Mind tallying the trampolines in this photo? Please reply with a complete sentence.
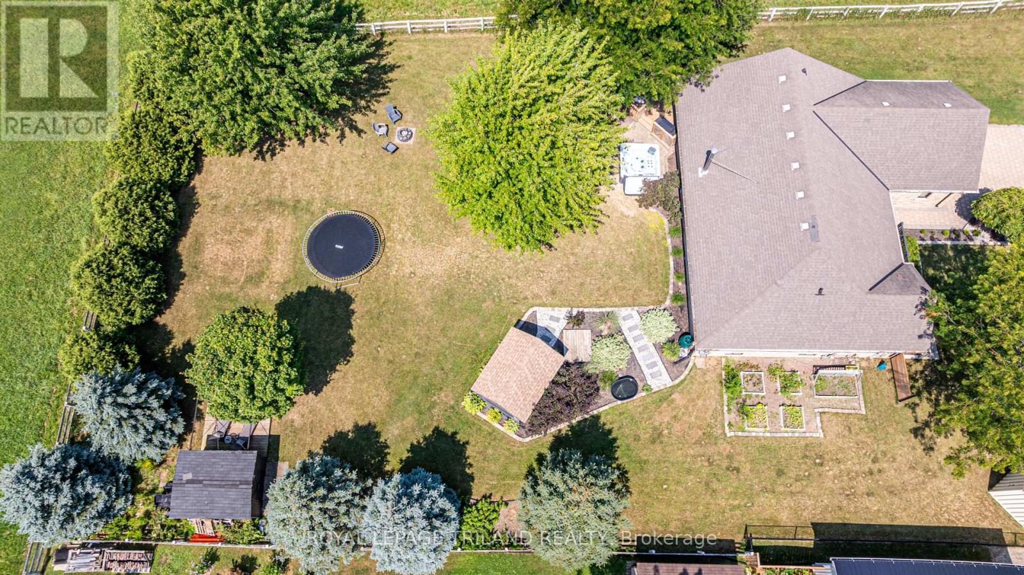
There is 1 trampoline in the image.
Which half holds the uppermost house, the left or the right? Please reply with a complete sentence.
The uppermost house sits on the right side.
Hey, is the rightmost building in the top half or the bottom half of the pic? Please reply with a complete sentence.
Seen from above, the rightmost building lies in the bottom half of the view.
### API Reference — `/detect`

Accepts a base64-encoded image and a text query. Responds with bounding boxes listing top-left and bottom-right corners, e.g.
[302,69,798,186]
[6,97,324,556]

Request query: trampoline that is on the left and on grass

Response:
[303,210,383,288]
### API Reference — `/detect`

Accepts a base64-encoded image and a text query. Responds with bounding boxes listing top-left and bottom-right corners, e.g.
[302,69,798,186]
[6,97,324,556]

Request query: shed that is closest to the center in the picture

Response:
[471,327,564,423]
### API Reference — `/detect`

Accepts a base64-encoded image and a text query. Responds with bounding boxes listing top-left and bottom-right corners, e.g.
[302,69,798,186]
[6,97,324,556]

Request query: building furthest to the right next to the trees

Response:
[985,461,1024,536]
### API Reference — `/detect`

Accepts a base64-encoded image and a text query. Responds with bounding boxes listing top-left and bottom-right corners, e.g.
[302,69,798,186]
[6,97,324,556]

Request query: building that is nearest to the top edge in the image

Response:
[671,47,992,358]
